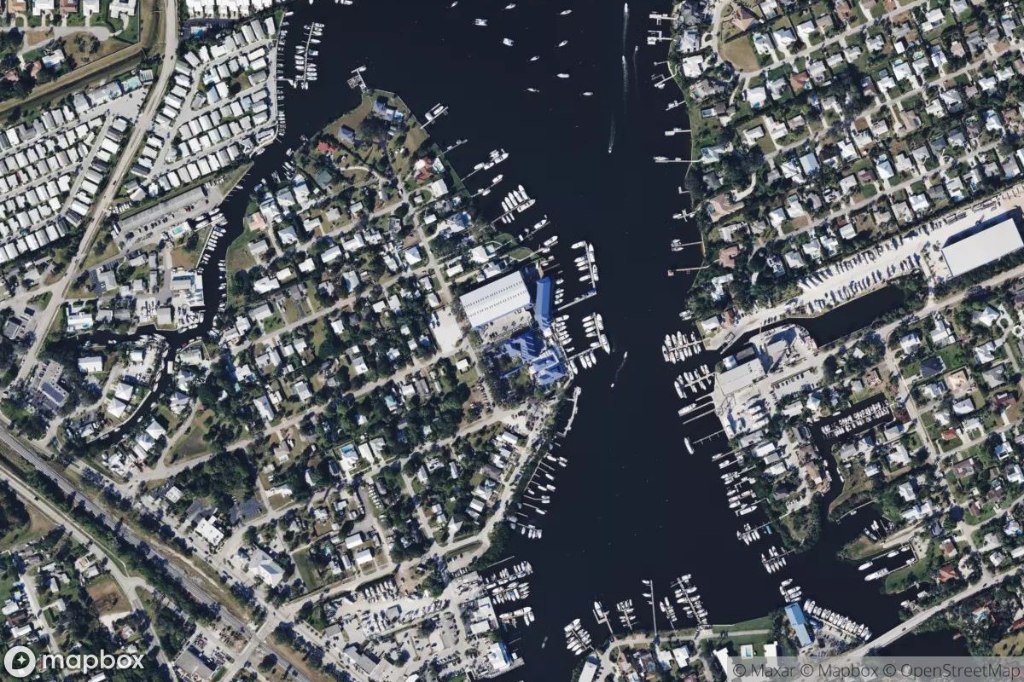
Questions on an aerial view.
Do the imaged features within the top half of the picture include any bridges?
No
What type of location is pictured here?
residential area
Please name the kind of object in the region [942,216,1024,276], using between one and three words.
shed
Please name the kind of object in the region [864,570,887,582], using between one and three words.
boat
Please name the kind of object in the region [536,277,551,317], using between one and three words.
building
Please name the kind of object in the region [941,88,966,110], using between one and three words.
house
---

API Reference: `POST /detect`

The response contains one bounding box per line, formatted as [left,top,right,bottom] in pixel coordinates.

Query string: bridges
[856,617,915,655]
